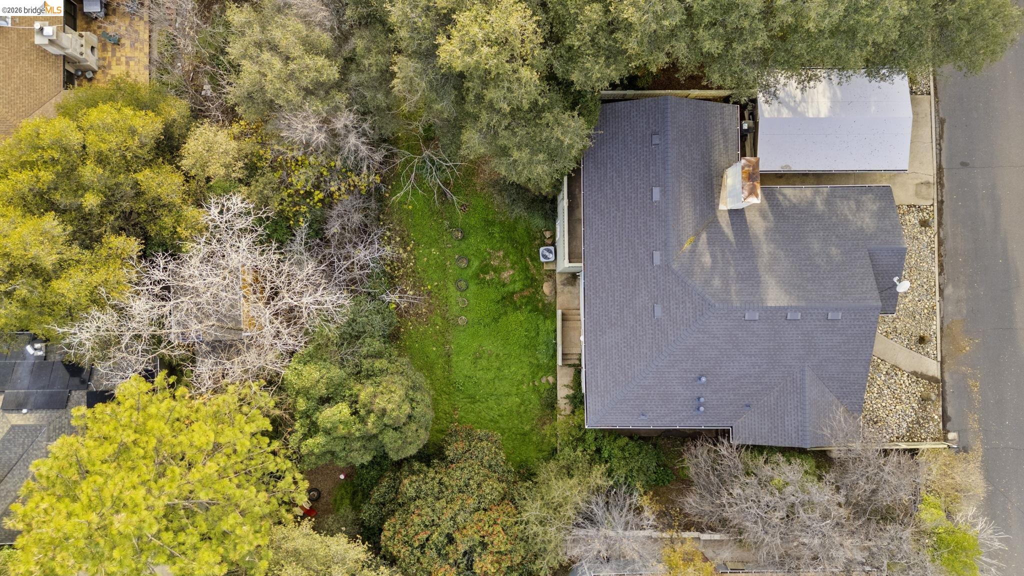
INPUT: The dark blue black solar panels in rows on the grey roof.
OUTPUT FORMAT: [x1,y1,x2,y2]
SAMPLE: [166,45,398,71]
[0,334,115,409]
